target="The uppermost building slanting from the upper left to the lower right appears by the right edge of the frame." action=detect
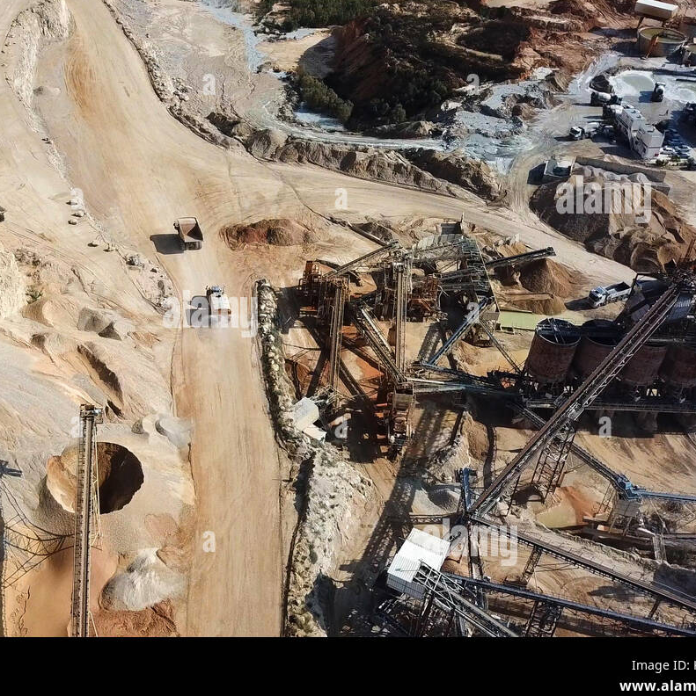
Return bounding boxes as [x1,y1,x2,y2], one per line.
[600,114,676,172]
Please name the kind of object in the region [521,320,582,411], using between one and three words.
silo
